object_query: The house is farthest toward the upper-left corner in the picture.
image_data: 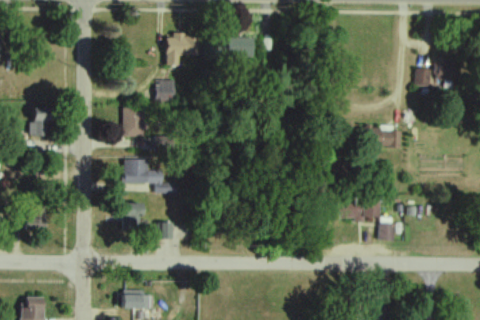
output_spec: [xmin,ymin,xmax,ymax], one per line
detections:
[29,109,46,136]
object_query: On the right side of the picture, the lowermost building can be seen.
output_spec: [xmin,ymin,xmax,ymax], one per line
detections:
[377,214,394,240]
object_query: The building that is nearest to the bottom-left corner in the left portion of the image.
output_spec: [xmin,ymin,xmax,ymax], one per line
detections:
[21,297,45,320]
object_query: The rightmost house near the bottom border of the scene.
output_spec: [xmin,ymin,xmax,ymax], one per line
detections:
[122,290,154,310]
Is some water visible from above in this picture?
No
